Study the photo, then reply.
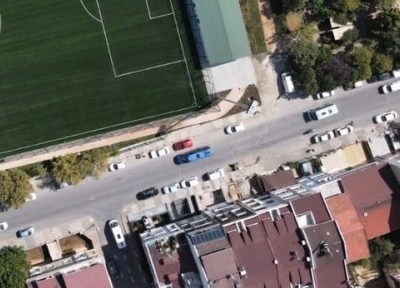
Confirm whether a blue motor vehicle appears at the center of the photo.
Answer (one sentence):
Yes, I can see a blue motor vehicle at the center of the photo.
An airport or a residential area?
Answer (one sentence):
It's a residential area.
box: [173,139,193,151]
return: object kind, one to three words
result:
vehicle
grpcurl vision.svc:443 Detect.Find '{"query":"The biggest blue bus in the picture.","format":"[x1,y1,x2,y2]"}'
[175,145,218,168]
